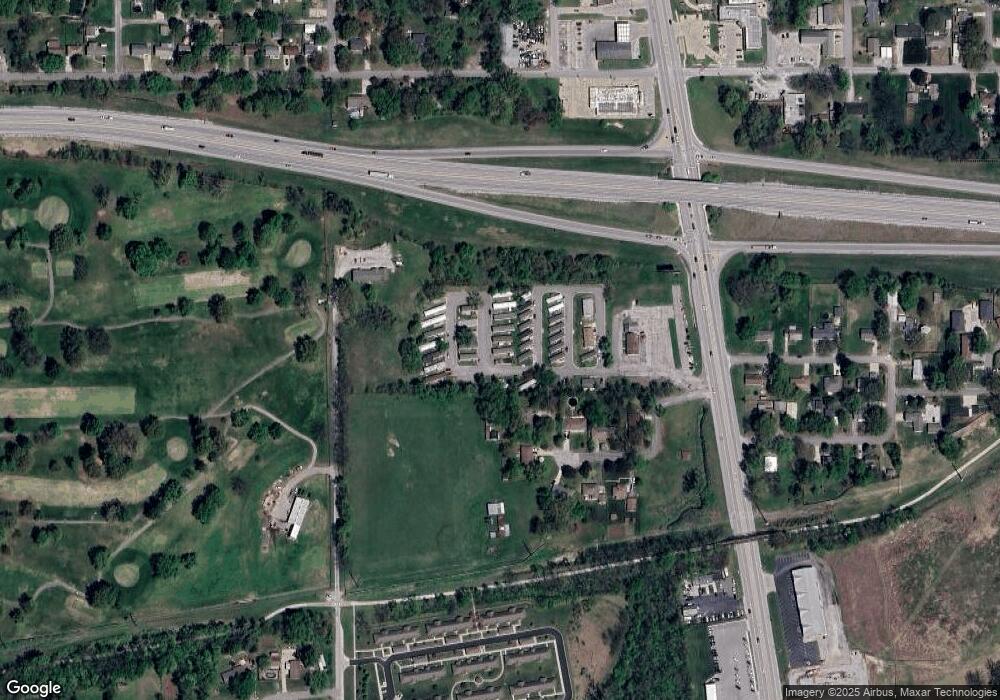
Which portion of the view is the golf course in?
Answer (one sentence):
Look in the left portion of the view to spot the golf course.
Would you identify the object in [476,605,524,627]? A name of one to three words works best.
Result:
building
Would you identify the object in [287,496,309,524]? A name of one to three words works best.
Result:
shed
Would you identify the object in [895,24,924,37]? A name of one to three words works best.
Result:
house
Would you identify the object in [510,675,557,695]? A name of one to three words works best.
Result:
building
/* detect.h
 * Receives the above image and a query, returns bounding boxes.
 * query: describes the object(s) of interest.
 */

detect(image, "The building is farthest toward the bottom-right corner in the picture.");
[793,568,825,641]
